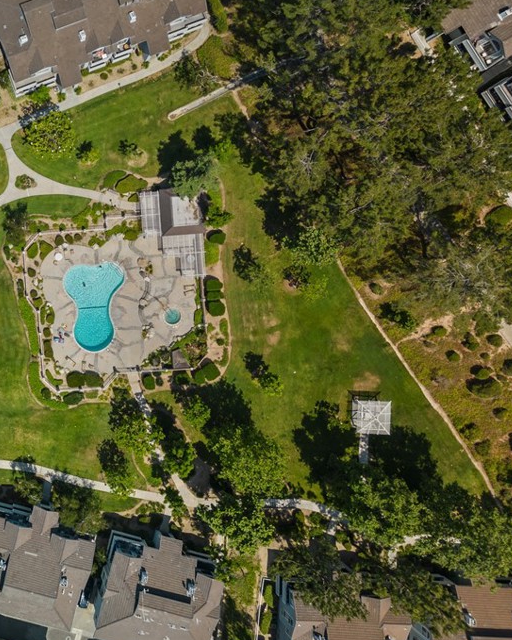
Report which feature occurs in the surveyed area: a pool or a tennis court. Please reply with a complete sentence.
Visible in the photo is a pool.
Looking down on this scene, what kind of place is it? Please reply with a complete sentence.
The picture captures a residential area.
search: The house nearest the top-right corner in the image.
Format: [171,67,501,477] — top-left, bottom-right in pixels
[430,0,512,77]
